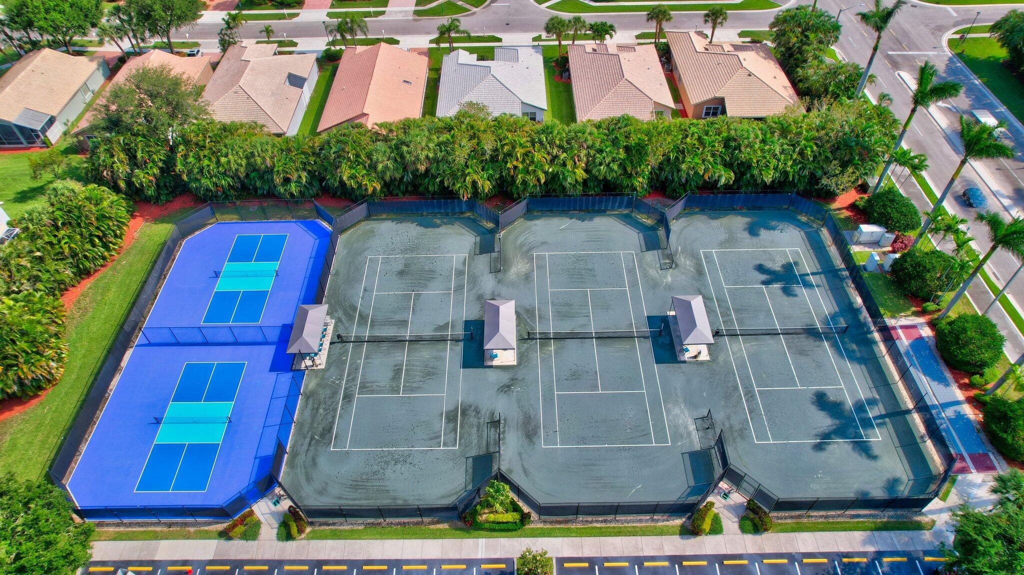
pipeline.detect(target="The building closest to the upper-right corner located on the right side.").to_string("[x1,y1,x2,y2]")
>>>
[666,30,806,132]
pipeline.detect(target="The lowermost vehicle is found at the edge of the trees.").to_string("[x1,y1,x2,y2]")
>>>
[960,184,992,212]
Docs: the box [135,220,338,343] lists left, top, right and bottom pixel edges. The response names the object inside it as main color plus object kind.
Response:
blue sports court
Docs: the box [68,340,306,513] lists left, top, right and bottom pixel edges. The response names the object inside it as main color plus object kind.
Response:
blue sports court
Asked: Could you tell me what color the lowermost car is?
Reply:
blue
